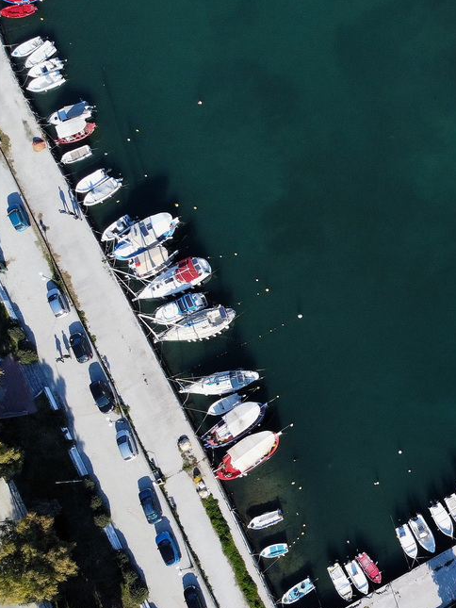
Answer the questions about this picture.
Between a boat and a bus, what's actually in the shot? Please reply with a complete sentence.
Visible in the photo is a boat.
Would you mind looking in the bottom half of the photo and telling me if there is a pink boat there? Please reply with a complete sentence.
Yes, you'll find a pink boat in the bottom half of the photo.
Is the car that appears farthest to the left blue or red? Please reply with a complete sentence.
In this view, the car that appears farthest to the left is blue.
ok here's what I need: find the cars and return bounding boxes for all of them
[67,332,92,363]
[42,284,68,318]
[182,587,206,608]
[137,491,161,525]
[156,534,179,566]
[88,380,114,413]
[4,200,29,231]
[115,430,139,462]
